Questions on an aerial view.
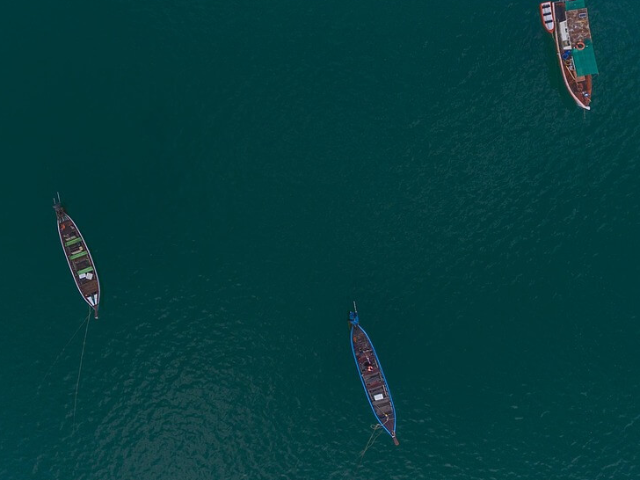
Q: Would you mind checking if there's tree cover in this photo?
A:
No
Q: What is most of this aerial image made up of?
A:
water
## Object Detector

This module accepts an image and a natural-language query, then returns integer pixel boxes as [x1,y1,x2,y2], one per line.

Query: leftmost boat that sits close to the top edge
[539,1,554,34]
